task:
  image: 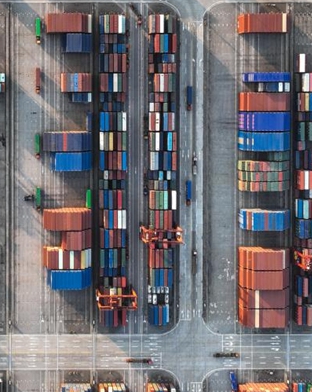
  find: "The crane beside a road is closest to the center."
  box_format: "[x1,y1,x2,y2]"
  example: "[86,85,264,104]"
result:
[138,220,185,244]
